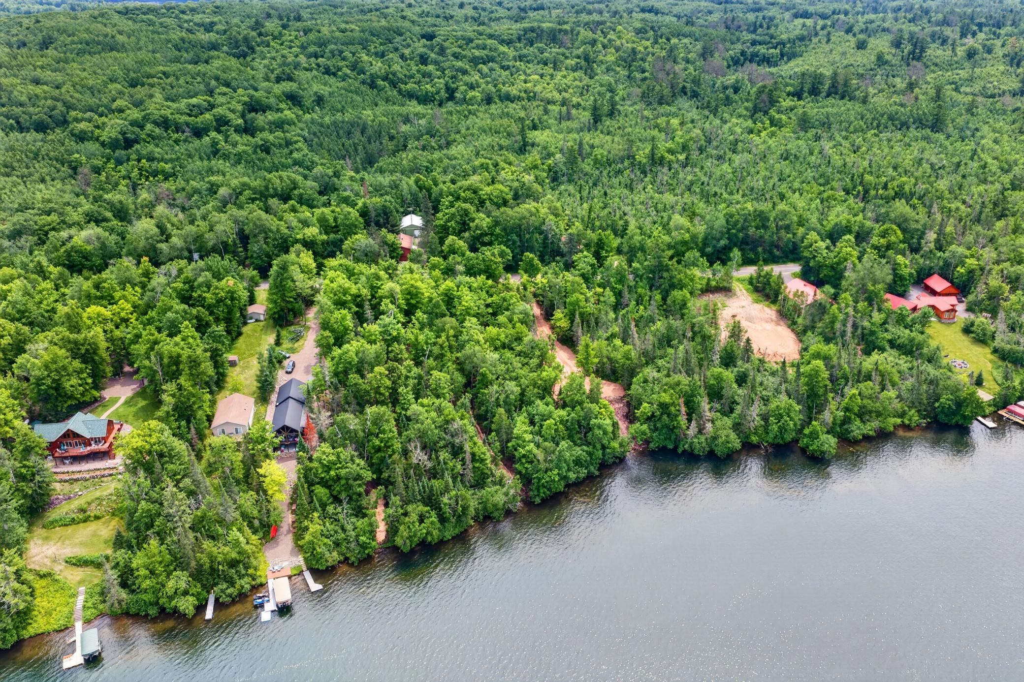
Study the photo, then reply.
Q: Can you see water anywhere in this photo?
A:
Yes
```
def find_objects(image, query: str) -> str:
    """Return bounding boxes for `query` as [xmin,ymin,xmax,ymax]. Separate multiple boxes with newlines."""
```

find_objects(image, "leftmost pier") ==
[62,621,85,672]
